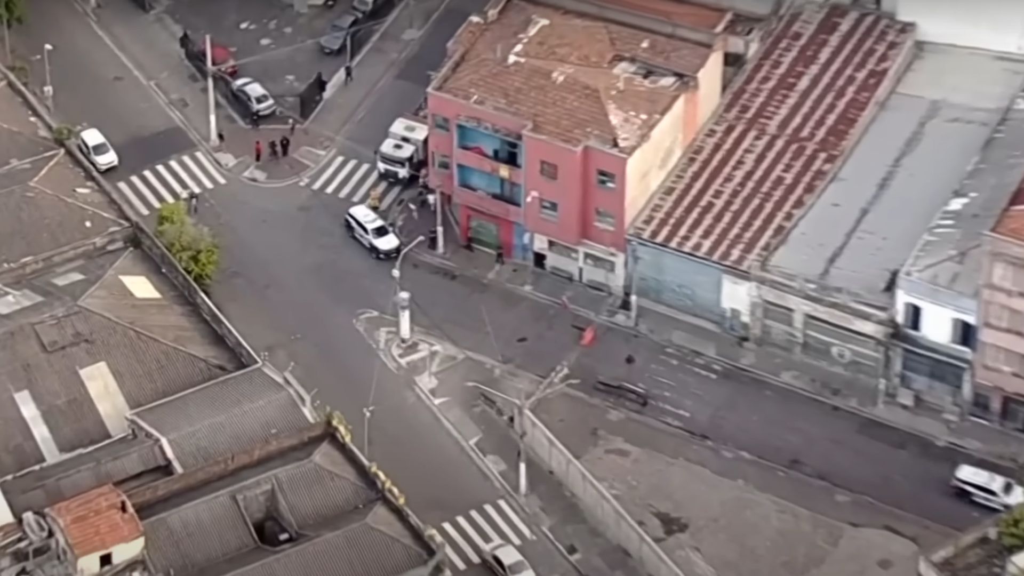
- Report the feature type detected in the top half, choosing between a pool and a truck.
truck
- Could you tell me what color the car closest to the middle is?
white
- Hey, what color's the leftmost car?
white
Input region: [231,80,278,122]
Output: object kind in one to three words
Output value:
car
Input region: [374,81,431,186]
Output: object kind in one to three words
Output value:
truck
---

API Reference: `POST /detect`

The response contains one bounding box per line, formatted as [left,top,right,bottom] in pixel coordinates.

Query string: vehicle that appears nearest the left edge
[77,129,120,173]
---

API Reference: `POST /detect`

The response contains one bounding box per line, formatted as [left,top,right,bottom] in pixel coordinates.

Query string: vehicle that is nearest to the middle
[344,205,401,257]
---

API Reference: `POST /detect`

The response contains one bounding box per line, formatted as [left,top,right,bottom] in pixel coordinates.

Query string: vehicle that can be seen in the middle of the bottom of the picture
[481,533,538,576]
